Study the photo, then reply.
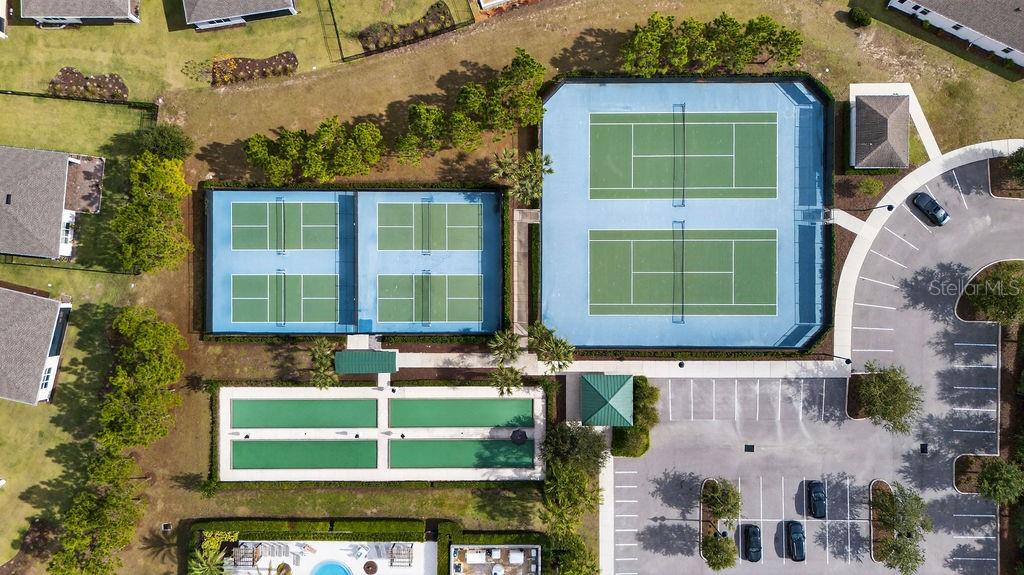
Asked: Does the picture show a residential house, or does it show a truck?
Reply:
residential house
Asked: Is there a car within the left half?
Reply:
No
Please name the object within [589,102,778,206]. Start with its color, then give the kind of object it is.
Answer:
green tennis court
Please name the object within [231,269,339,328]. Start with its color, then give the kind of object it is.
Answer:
green sports court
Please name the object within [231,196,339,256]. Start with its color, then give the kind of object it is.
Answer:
green sports court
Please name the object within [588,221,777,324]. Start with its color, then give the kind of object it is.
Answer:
green tennis court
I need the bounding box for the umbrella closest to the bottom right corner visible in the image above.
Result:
[510,428,527,445]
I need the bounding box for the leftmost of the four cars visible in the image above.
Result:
[743,522,762,561]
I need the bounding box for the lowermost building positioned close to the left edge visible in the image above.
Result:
[0,289,71,408]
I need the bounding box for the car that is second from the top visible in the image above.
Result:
[807,478,827,518]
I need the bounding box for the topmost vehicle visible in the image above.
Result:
[914,192,950,225]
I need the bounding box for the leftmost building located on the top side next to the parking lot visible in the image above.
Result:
[849,95,910,169]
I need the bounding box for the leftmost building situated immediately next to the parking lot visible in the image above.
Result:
[580,375,633,427]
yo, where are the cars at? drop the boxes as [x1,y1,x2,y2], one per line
[807,478,827,518]
[786,520,806,560]
[743,522,762,561]
[914,192,950,225]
